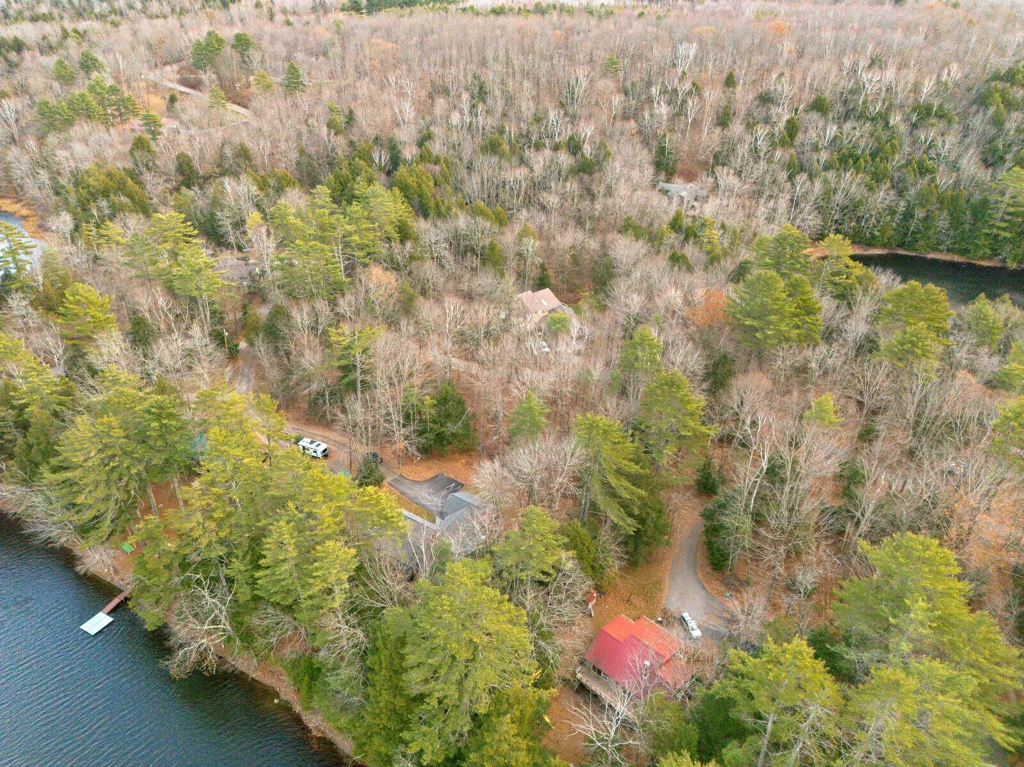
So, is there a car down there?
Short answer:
Yes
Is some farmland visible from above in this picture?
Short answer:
No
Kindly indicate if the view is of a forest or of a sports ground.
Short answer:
forest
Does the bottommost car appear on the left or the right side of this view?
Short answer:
right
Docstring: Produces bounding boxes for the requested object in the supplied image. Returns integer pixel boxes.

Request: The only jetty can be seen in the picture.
[77,584,139,636]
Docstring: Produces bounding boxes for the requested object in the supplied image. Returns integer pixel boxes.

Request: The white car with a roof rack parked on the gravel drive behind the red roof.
[679,609,706,642]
